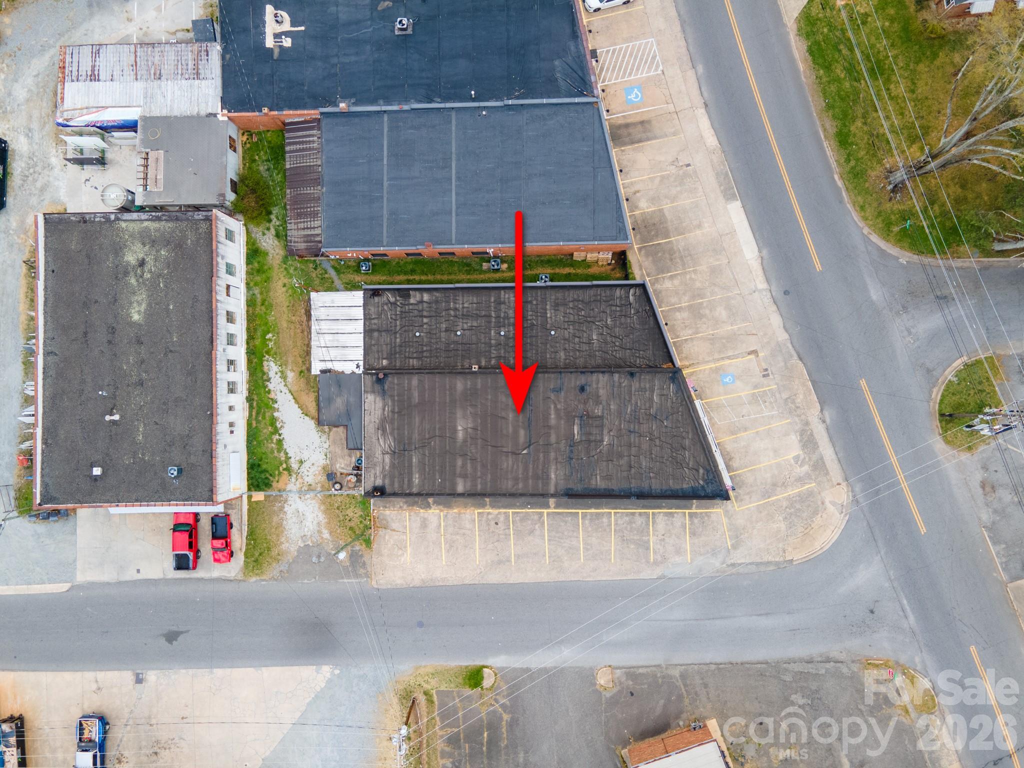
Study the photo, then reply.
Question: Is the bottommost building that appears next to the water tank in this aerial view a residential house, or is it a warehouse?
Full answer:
What you see as the bottommost building that appears next to the water tank is a warehouse.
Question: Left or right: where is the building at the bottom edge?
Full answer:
The building at the bottom edge sits on the right side.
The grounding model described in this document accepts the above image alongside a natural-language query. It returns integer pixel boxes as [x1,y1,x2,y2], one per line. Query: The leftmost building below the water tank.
[34,209,243,514]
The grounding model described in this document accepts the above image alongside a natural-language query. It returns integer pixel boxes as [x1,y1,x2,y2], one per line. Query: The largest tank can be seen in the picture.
[102,184,136,212]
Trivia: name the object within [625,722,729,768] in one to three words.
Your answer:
building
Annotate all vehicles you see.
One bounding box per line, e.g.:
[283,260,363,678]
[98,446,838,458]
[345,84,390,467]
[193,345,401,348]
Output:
[169,512,202,572]
[583,0,632,12]
[74,714,112,768]
[207,513,236,566]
